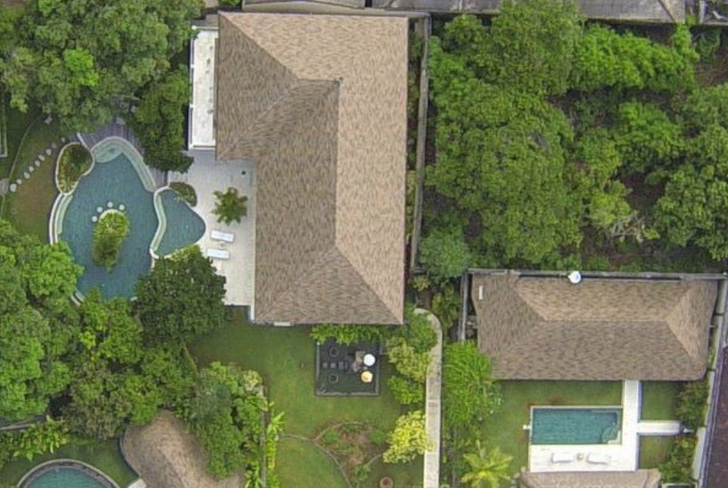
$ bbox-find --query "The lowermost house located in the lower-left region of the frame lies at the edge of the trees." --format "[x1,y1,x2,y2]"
[120,415,248,488]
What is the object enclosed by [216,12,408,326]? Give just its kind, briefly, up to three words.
house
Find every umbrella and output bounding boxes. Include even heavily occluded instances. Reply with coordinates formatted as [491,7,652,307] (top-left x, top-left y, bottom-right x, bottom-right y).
[363,353,375,366]
[358,369,371,382]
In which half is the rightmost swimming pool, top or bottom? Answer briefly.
bottom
